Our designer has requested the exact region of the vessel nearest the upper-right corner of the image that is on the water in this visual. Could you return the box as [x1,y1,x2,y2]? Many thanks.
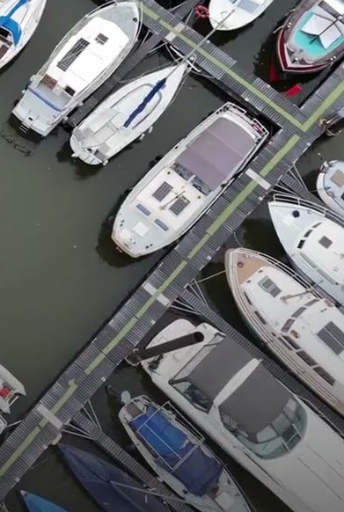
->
[271,0,344,78]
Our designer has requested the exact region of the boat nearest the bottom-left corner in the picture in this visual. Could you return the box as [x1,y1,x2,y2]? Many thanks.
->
[20,489,66,512]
